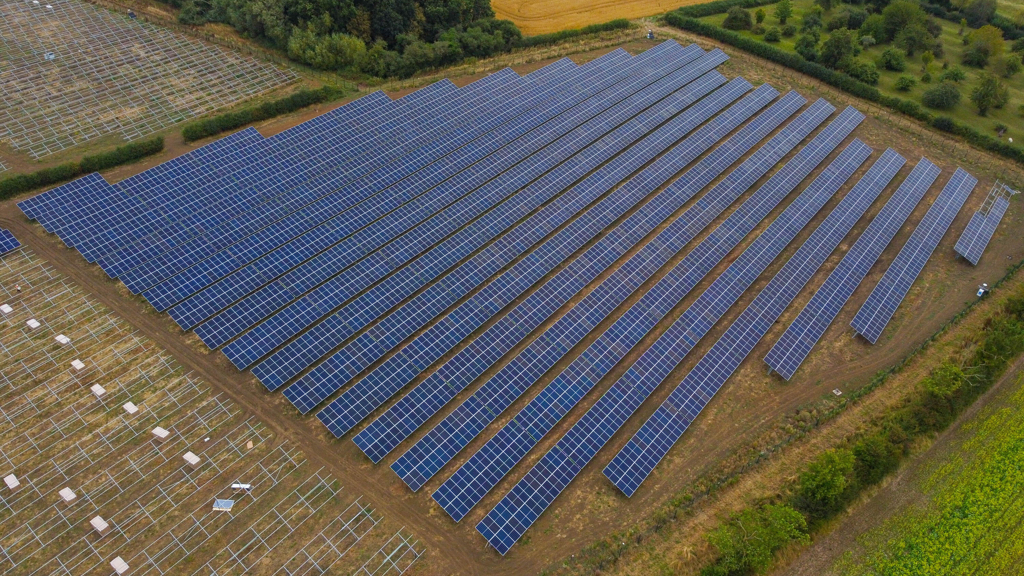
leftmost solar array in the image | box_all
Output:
[0,229,22,255]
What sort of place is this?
solar farm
